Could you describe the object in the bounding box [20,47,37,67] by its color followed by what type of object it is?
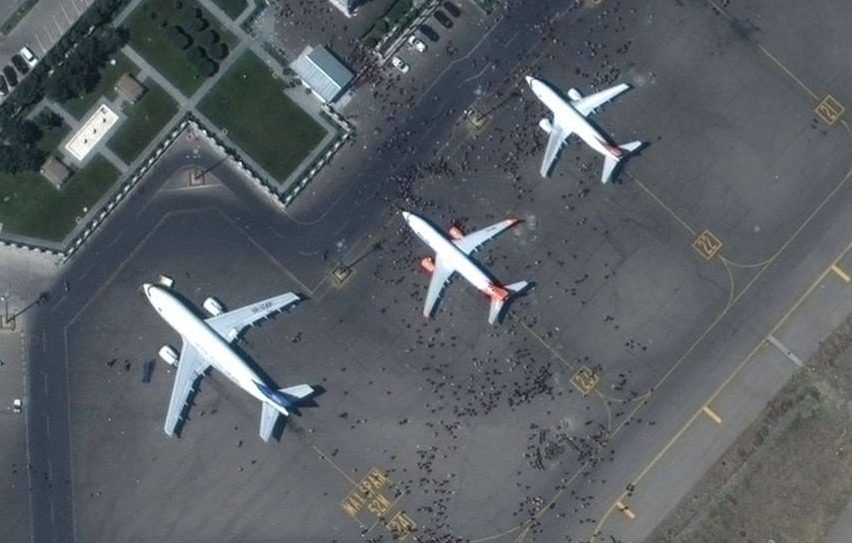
white car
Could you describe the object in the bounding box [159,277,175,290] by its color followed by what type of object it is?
white vehicle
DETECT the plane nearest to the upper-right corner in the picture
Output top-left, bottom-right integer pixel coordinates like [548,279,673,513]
[526,77,642,183]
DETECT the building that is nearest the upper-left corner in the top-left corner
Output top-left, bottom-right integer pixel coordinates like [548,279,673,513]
[113,72,145,106]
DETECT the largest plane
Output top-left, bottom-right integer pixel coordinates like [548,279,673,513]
[142,285,315,440]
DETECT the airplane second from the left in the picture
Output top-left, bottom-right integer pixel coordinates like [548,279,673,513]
[403,212,530,323]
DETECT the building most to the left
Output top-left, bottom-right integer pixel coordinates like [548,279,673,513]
[41,155,71,189]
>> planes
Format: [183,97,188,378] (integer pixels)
[403,212,530,323]
[526,77,642,183]
[142,285,315,440]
